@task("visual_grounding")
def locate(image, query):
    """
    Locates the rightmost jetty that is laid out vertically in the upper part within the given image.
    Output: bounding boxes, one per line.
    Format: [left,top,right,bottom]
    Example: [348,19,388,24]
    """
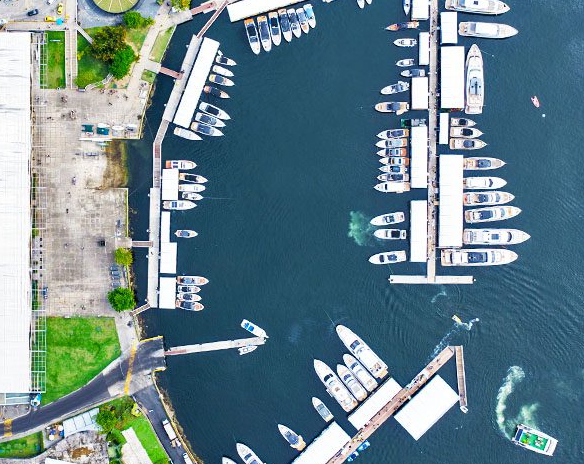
[427,0,440,276]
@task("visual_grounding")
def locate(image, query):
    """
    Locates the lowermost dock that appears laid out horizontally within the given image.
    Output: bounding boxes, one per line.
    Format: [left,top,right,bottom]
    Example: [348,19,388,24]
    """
[165,337,265,355]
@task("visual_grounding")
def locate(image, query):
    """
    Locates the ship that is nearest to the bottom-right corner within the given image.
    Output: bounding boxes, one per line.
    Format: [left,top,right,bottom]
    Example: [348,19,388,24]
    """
[507,423,559,455]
